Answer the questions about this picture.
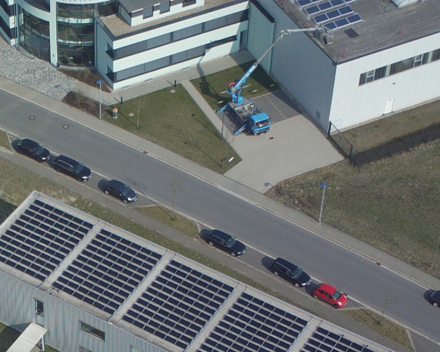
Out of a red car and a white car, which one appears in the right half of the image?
red car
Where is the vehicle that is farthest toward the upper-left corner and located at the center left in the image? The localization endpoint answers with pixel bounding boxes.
[12,138,52,165]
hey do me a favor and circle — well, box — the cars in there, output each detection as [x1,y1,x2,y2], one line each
[12,138,52,165]
[205,228,247,258]
[101,178,138,205]
[427,290,440,308]
[269,256,313,288]
[52,154,93,182]
[311,282,349,311]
